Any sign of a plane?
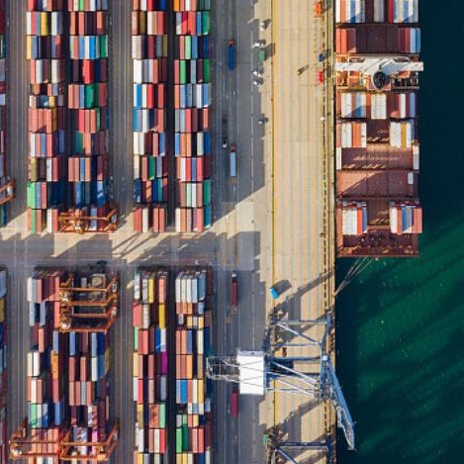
No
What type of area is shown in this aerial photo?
port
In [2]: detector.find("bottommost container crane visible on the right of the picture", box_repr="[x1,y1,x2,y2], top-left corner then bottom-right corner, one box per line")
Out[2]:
[261,414,329,464]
